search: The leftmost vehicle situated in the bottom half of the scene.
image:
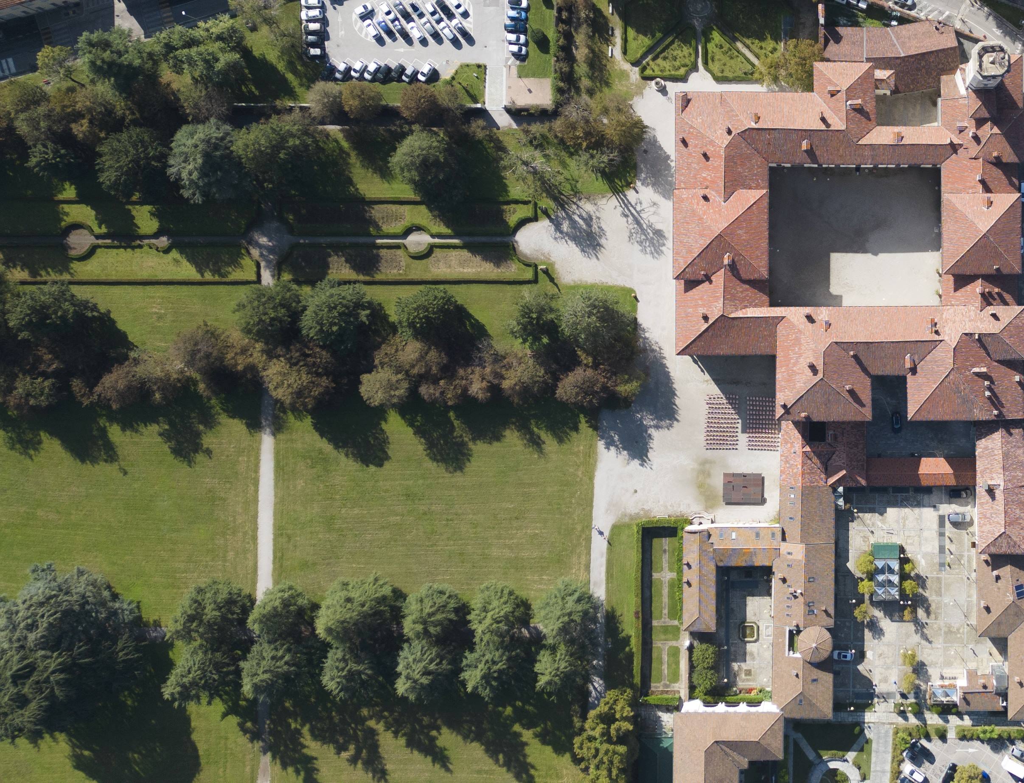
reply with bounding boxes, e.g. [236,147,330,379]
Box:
[832,650,856,662]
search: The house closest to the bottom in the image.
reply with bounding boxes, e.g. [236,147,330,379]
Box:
[673,700,784,783]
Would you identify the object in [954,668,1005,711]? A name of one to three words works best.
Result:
building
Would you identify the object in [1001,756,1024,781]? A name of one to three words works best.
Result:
vehicle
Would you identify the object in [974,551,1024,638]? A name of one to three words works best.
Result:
house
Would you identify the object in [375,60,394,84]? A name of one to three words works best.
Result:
car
